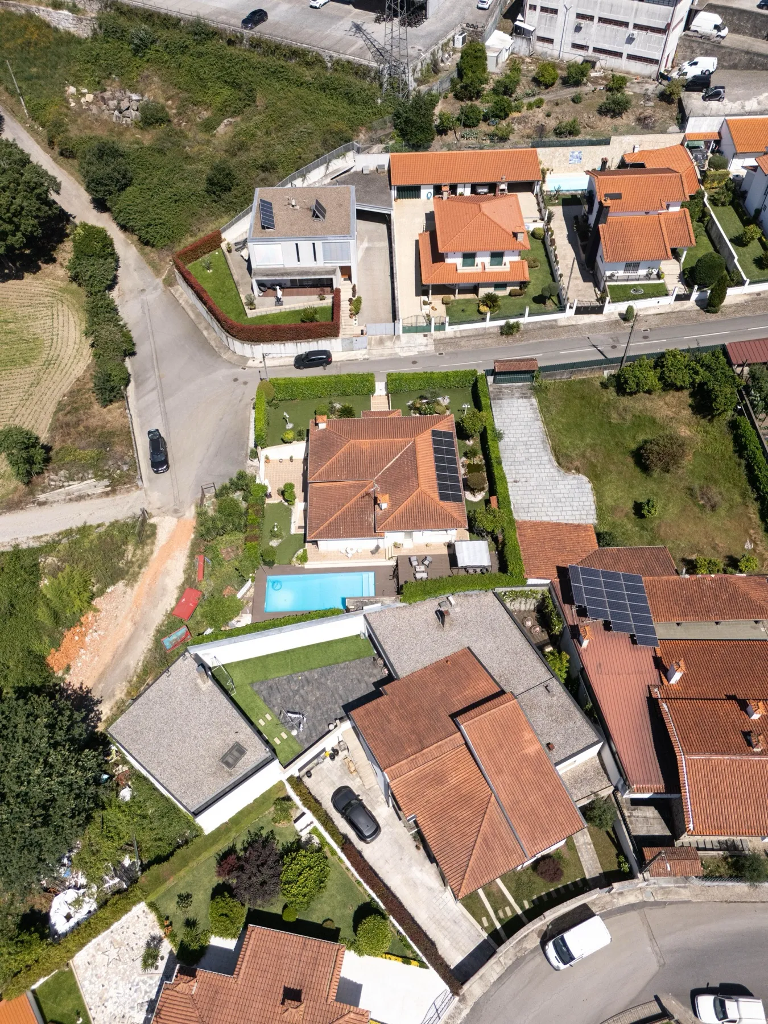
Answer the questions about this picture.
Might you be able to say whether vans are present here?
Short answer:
Yes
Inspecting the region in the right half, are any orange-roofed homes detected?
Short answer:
Yes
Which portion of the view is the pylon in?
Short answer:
top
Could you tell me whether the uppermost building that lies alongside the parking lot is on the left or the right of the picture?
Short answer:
right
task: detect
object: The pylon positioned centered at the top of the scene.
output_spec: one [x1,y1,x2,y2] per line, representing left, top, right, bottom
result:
[383,0,414,105]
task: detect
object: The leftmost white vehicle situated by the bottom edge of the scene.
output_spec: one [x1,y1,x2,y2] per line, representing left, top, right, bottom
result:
[546,915,619,974]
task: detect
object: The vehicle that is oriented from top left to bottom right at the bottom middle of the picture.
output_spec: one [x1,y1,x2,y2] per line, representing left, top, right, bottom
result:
[330,781,383,846]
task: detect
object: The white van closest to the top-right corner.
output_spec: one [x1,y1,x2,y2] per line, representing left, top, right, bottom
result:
[698,11,732,41]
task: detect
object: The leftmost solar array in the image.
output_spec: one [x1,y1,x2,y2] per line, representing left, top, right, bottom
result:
[260,199,275,235]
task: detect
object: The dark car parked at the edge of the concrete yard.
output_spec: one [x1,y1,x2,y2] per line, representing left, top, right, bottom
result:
[241,8,268,26]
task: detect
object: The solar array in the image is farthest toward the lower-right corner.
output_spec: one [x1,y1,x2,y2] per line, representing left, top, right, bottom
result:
[569,565,657,650]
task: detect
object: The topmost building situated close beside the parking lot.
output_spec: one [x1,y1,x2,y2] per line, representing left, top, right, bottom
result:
[518,0,698,81]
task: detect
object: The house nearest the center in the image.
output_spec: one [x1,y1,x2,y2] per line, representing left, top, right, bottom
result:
[306,409,469,551]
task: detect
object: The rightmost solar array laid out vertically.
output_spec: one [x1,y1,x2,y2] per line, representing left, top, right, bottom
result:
[432,430,463,502]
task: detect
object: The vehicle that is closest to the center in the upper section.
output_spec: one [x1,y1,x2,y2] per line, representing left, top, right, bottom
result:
[292,346,335,368]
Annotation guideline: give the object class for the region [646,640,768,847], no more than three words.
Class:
house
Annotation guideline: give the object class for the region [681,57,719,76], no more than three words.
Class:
vehicle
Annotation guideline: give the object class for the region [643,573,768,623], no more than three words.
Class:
shed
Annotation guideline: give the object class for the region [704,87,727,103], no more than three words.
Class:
car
